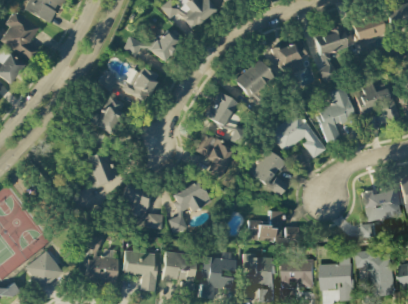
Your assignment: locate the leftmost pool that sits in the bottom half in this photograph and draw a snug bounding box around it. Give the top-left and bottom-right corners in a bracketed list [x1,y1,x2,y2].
[187,208,211,230]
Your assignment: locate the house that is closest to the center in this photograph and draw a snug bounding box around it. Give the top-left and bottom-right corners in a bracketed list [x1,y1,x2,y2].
[195,136,232,172]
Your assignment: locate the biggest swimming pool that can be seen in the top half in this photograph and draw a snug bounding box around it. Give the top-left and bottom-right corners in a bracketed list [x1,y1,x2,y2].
[106,60,130,78]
